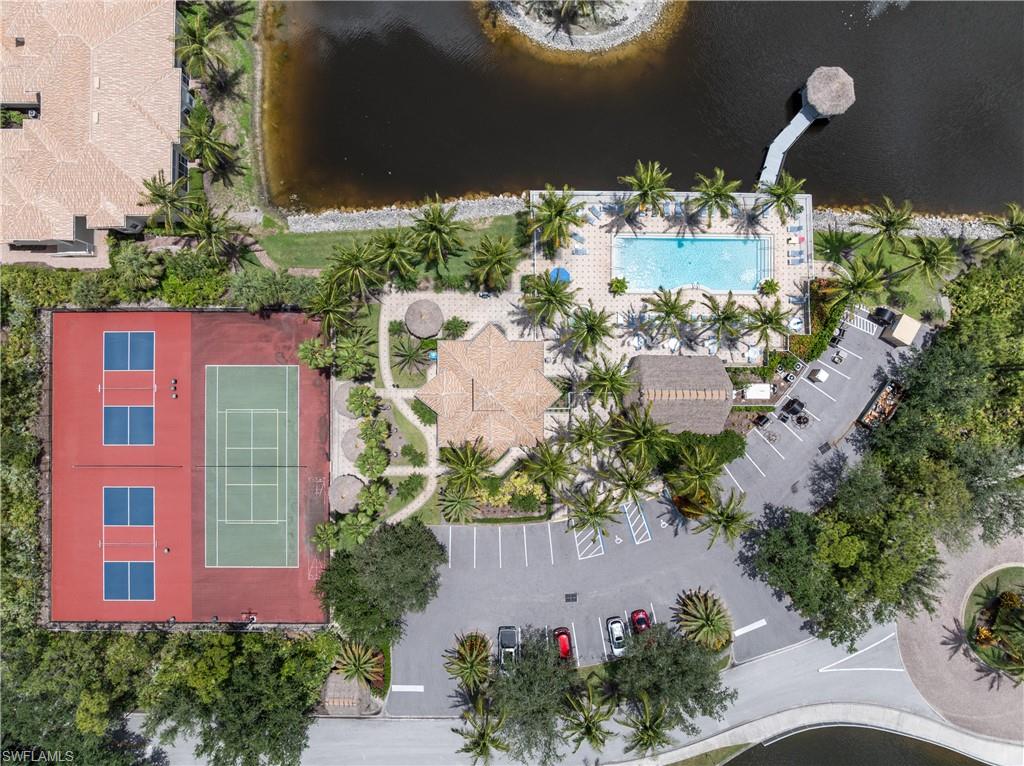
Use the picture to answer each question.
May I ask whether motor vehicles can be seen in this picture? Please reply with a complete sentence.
Yes, the image includes a motor vehicle.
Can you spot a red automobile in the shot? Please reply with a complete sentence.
Yes, there is a red automobile in the image.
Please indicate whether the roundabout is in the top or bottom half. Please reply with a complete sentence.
The roundabout sits in the bottom half of the picture.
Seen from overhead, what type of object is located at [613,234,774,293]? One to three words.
swimming pool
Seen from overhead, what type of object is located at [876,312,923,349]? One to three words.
shed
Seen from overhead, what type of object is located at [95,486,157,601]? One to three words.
sports court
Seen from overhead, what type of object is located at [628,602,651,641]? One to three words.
car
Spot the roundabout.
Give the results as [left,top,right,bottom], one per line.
[897,504,1024,744]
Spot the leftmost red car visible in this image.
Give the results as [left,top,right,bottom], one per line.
[553,622,573,662]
